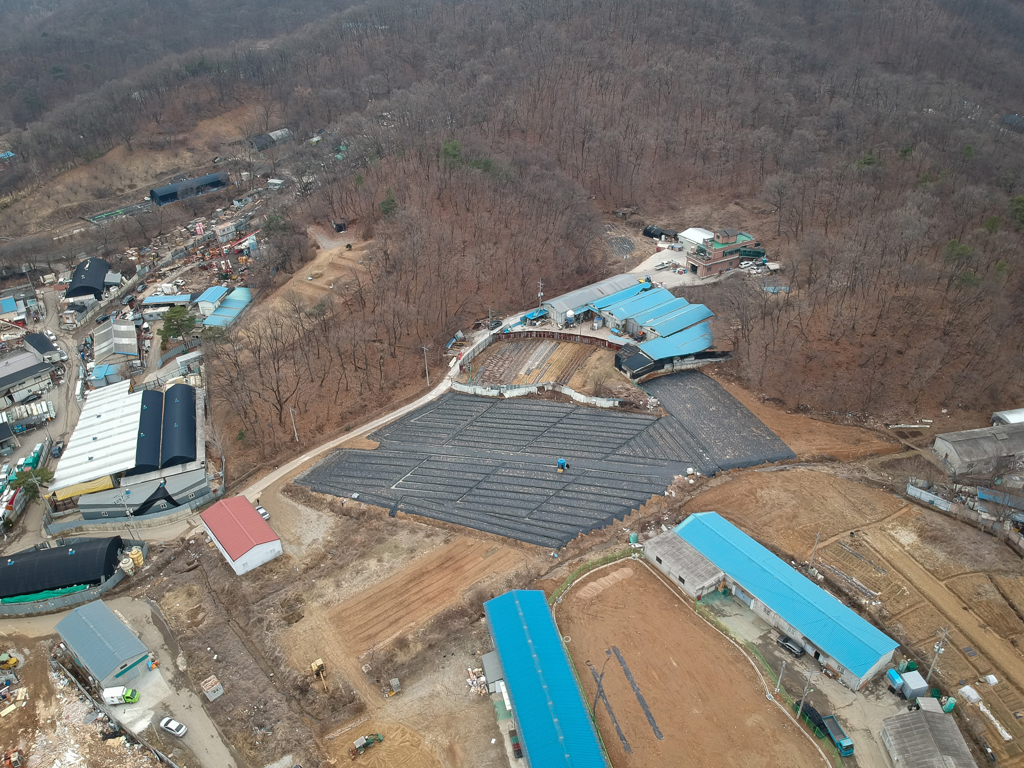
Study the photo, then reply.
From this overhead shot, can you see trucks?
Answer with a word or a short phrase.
Yes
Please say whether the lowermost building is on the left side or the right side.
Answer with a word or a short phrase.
right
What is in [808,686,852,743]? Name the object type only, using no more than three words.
truck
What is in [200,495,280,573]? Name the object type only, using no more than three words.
house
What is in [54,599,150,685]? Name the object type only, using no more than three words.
building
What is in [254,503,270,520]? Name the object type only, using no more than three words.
car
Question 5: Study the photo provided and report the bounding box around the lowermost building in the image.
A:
[879,708,983,768]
